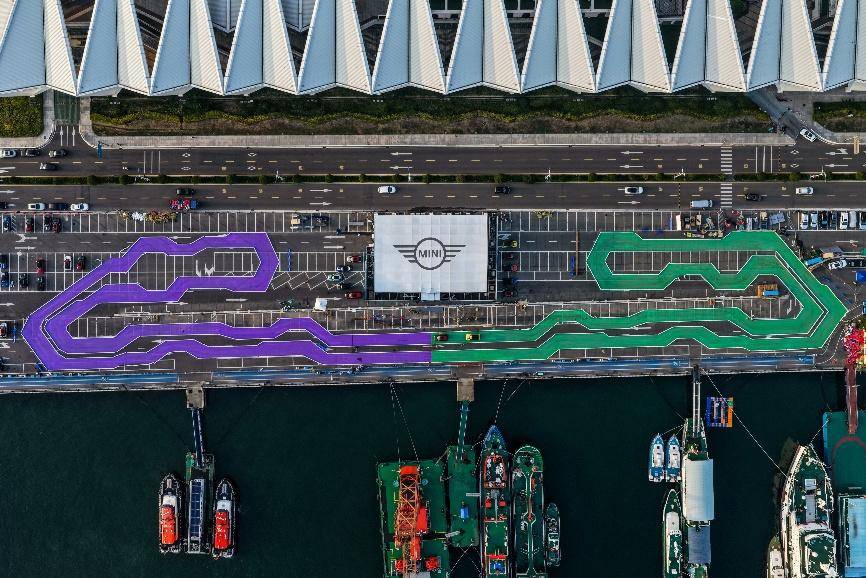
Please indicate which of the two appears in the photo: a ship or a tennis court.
ship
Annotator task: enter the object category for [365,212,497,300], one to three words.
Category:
building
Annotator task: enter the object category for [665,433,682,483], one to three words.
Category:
boat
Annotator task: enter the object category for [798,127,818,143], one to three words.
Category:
car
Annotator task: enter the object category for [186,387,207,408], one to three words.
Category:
pier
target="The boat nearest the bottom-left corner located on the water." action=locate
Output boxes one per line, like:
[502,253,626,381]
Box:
[158,474,184,554]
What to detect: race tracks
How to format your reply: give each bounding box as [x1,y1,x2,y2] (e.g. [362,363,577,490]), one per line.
[21,231,847,370]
